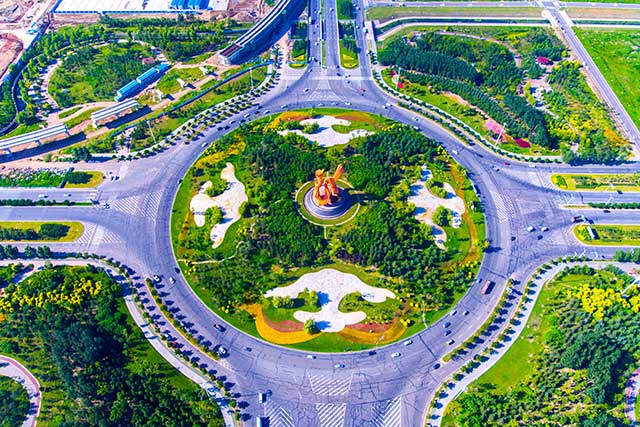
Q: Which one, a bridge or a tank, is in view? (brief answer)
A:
bridge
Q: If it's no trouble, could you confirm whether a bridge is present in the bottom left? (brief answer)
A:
No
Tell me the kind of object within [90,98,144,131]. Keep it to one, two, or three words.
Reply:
bridge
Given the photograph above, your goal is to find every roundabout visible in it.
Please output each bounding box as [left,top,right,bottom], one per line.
[141,94,503,388]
